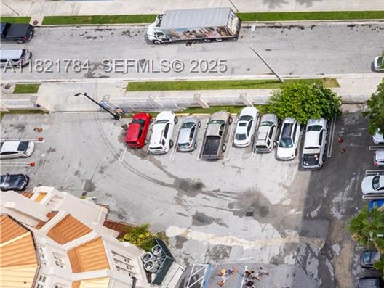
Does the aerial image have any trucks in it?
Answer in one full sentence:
Yes, a truck appears in the view.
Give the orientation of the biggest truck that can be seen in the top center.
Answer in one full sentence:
What the image shows is the biggest truck that can be seen in the top center lying from side to side.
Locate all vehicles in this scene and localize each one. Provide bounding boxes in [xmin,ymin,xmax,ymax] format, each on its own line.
[0,46,32,70]
[128,115,157,150]
[233,110,261,149]
[368,195,384,212]
[178,119,204,154]
[254,116,283,155]
[360,248,384,268]
[148,113,180,155]
[200,113,235,161]
[0,137,40,162]
[0,22,31,45]
[0,171,34,192]
[276,119,304,161]
[144,7,239,49]
[370,151,384,170]
[373,130,384,147]
[361,172,384,196]
[301,120,329,170]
